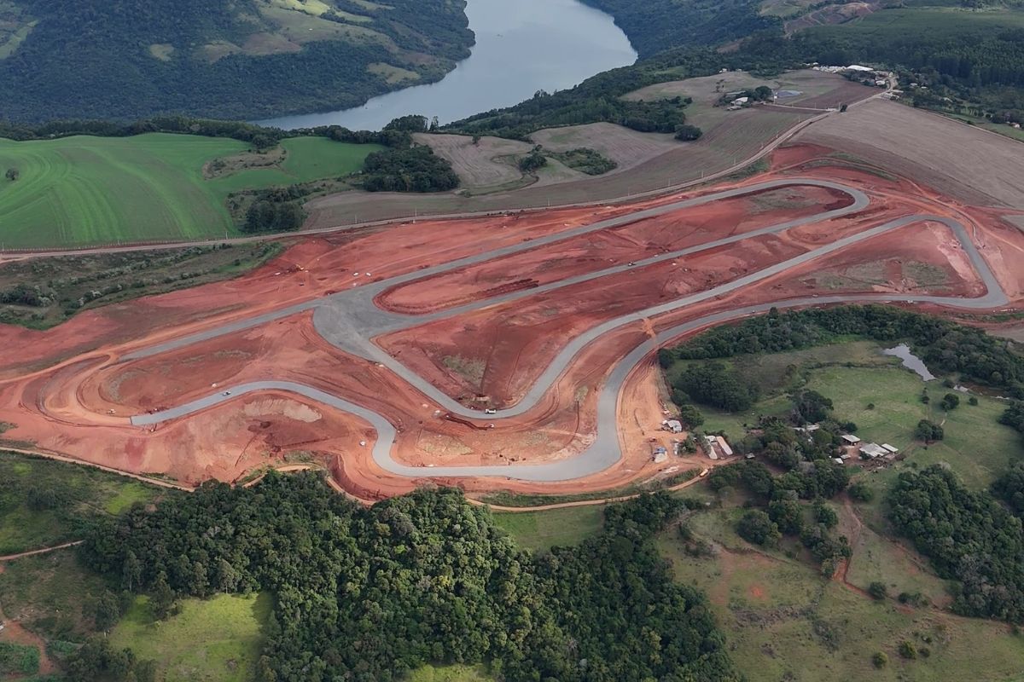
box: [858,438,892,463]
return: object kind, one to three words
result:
barn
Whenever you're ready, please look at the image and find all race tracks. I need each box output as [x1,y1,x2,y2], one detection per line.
[117,179,1007,480]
